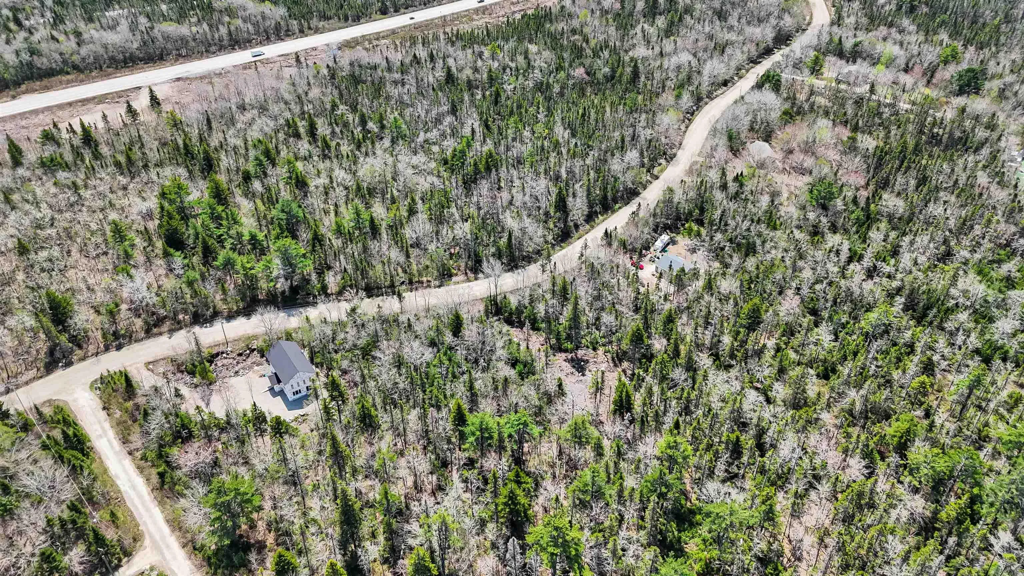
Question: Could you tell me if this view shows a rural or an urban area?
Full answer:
This place is rural.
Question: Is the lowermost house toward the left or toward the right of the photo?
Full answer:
The lowermost house appears in the left half of the scene.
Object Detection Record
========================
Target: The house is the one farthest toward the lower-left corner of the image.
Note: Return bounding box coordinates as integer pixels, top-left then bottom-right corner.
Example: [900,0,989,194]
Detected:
[260,342,317,401]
